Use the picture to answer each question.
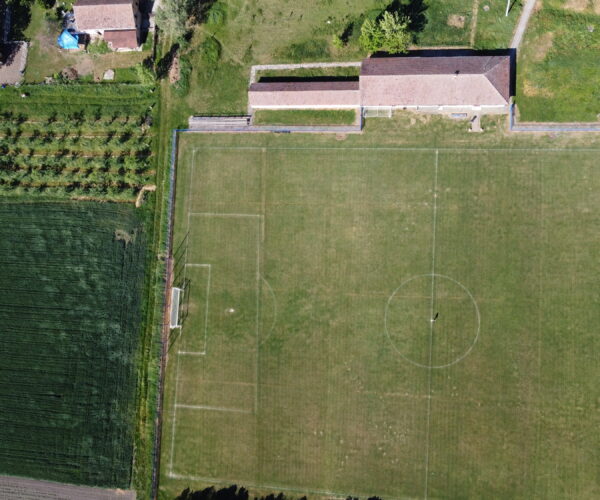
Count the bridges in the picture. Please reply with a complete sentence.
The picture shows no bridges.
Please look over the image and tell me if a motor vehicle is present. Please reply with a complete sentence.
No, no motor vehicle can be seen from above.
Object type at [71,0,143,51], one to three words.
house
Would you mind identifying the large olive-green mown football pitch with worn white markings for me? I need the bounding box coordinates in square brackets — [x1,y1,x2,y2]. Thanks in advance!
[156,111,600,500]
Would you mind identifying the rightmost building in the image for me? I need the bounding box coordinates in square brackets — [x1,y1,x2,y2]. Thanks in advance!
[360,54,510,113]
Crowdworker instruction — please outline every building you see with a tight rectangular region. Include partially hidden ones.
[360,54,510,113]
[71,0,143,51]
